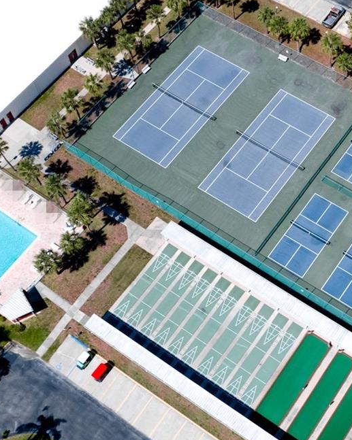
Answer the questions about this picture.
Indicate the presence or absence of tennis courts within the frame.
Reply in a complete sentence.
Yes, you can see a tennis court in this photo.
